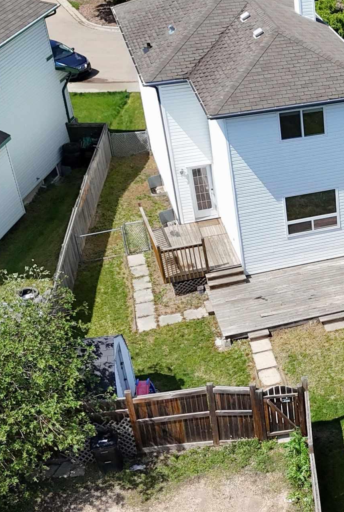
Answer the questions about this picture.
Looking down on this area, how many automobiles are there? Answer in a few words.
1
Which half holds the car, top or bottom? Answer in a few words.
top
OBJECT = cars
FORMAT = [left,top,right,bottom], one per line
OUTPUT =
[49,30,89,70]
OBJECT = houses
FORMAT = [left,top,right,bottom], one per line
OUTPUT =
[103,0,344,276]
[0,0,83,235]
